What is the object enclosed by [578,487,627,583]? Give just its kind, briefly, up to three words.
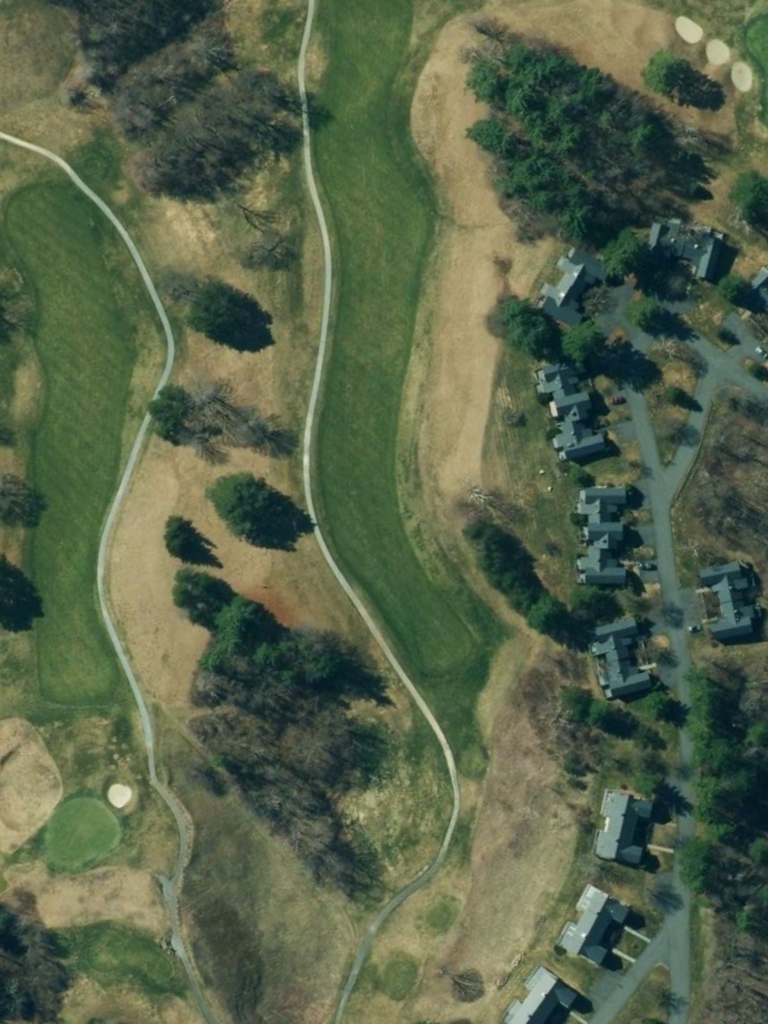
house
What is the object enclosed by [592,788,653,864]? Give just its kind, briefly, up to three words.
house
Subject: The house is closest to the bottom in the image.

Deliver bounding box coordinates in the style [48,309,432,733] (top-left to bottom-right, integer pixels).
[502,966,577,1024]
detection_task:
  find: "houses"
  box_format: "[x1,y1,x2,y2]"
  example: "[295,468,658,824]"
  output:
[557,885,630,966]
[750,268,768,296]
[538,247,608,326]
[589,618,653,699]
[592,788,653,864]
[700,561,761,642]
[538,357,607,460]
[578,487,627,583]
[648,217,724,278]
[502,966,577,1024]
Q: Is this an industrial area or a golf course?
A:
golf course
